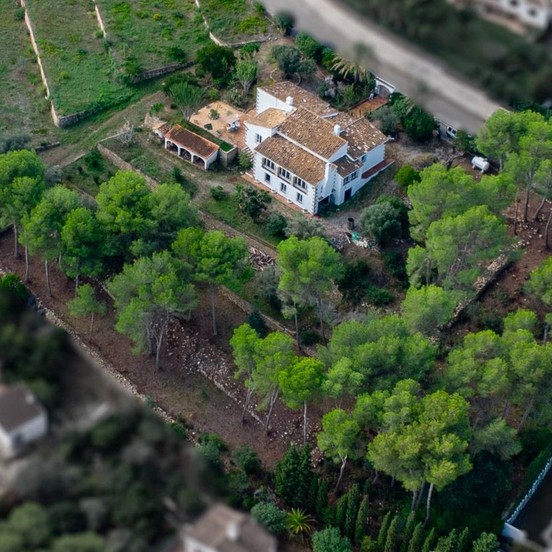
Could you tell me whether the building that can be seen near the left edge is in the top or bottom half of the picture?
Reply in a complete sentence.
It is in the bottom half that the building that can be seen near the left edge appears.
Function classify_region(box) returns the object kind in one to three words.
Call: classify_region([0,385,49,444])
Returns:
building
